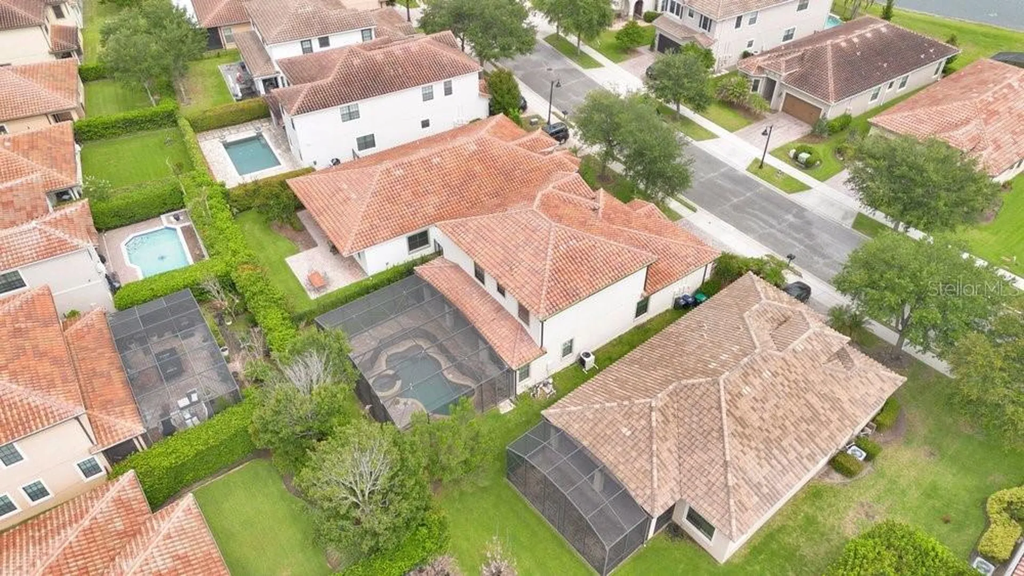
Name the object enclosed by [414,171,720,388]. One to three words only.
house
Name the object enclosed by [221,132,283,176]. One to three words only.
swimming pool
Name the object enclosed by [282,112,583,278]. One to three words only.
house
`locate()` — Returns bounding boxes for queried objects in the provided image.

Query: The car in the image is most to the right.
[781,280,820,308]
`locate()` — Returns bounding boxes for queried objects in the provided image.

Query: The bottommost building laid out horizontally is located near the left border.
[0,469,231,576]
